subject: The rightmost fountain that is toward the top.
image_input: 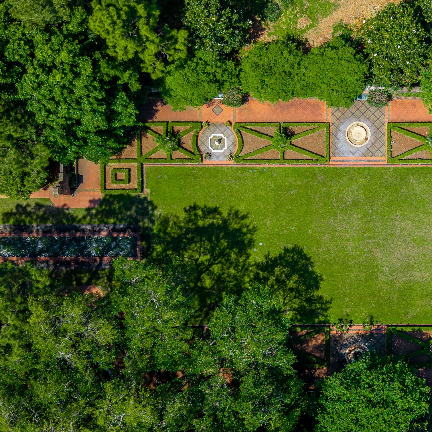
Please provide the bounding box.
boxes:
[345,121,371,147]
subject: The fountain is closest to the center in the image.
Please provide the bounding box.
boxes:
[208,134,228,152]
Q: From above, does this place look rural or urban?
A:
rural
